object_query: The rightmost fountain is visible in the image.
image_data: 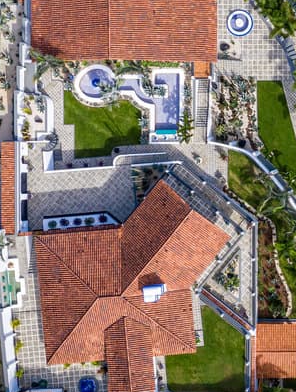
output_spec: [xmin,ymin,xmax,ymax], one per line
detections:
[226,9,254,37]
